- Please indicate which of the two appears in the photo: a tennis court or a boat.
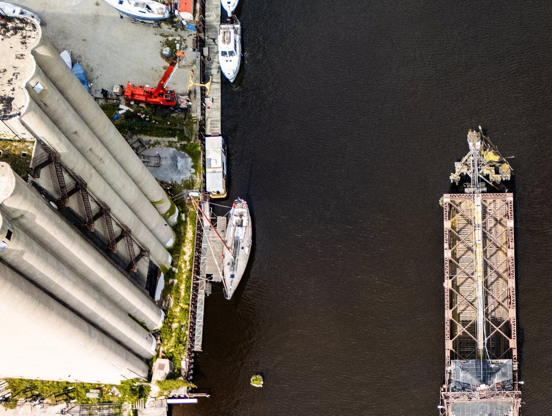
boat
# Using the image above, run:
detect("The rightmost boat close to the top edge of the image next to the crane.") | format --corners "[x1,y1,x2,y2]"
[218,9,239,82]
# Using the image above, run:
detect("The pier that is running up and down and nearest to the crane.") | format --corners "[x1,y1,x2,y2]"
[206,0,222,126]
